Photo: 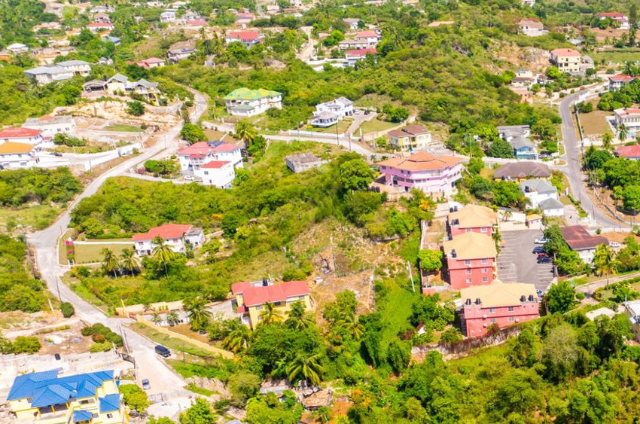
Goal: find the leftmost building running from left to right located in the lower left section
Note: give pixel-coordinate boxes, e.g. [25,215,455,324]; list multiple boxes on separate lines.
[7,367,132,424]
